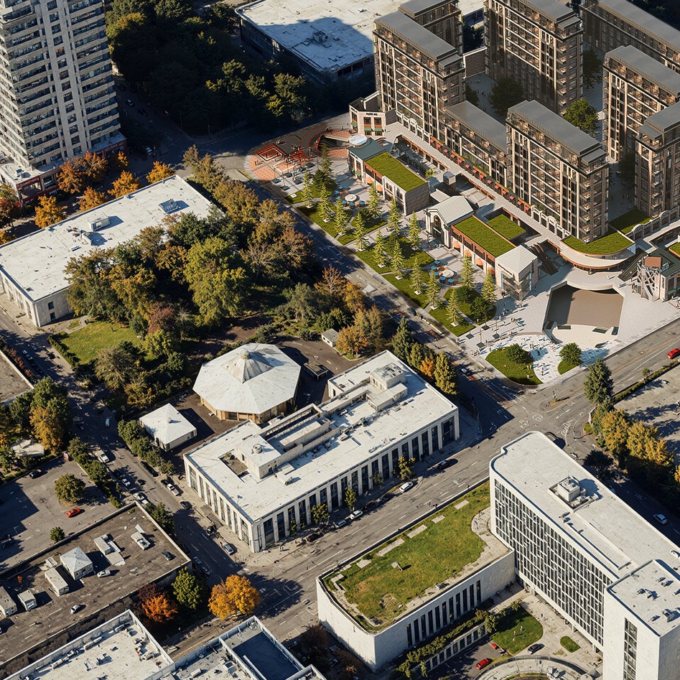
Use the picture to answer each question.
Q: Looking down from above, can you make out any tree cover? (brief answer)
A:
Yes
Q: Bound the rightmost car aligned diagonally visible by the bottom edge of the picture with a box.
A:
[524,641,546,658]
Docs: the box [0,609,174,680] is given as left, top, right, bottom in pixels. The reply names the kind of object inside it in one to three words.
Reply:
building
